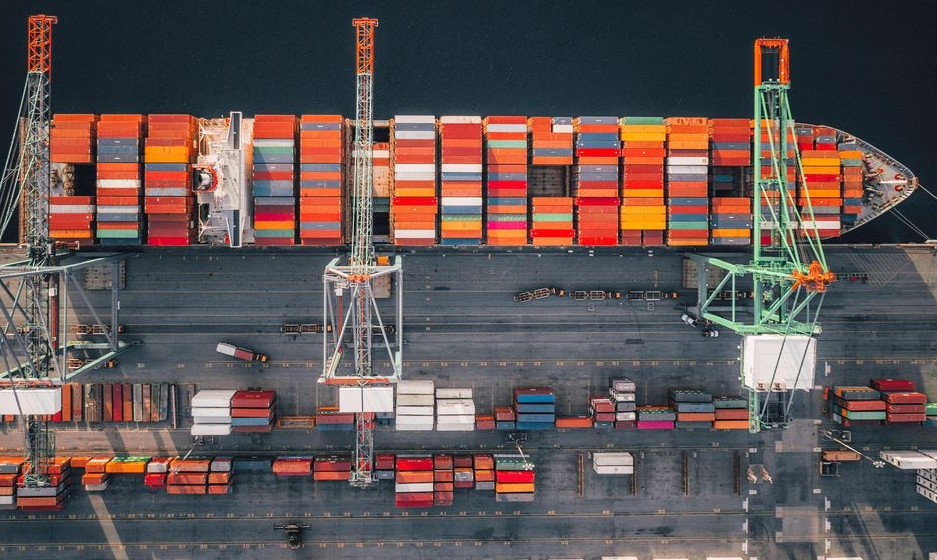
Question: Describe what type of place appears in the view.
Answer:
port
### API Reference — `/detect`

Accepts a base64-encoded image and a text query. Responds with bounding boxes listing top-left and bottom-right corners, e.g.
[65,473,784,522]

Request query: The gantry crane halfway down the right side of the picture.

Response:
[675,36,834,433]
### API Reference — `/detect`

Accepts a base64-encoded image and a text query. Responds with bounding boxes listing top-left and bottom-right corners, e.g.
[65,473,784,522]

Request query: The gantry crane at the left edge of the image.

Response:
[0,14,142,490]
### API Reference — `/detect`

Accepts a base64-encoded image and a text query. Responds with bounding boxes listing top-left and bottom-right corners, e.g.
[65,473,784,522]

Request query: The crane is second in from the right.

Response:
[323,16,415,487]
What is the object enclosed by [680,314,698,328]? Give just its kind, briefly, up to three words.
vehicle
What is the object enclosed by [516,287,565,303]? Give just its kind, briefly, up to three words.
vehicle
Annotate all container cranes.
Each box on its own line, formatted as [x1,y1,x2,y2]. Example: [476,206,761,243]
[675,36,834,433]
[0,14,142,490]
[323,16,415,487]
